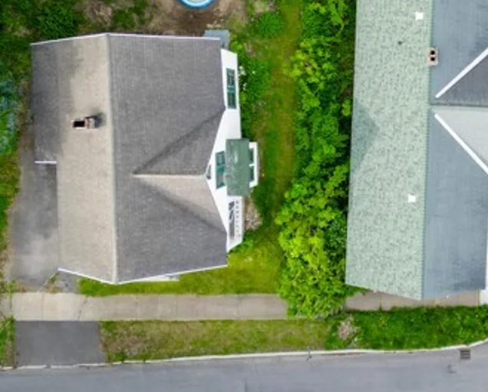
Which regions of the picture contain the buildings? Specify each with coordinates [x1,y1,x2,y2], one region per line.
[30,29,257,284]
[345,0,488,299]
